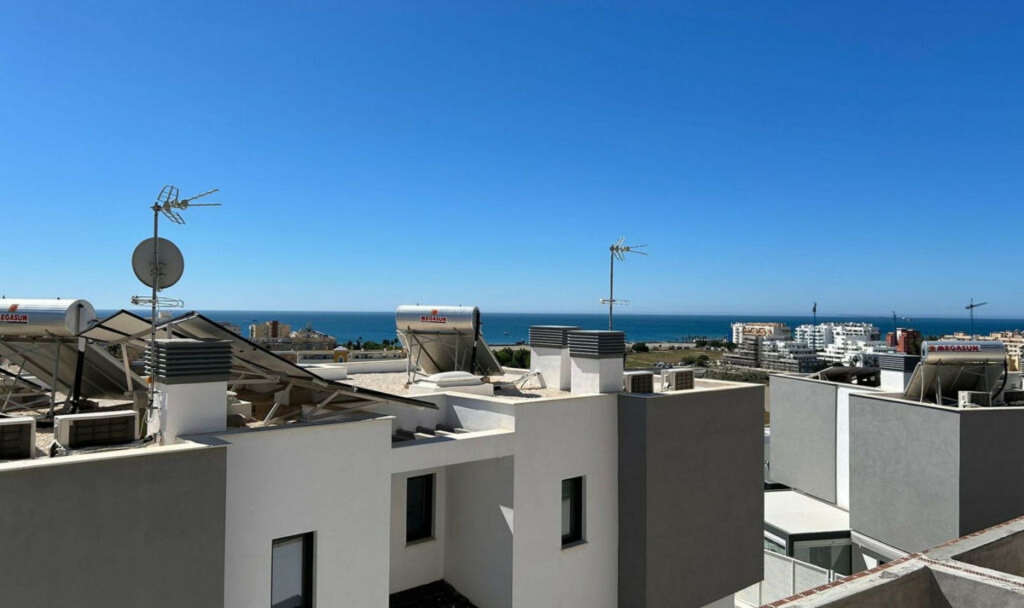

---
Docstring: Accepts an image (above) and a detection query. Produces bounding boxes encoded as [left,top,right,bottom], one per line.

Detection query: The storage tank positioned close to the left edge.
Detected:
[0,299,87,339]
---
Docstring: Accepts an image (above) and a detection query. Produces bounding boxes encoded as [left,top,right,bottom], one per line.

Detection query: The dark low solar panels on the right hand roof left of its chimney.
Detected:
[795,366,879,382]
